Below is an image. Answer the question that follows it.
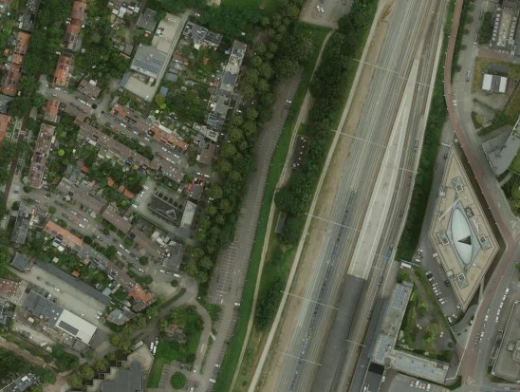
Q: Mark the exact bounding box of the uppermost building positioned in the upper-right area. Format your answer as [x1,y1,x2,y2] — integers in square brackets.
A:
[490,4,520,55]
